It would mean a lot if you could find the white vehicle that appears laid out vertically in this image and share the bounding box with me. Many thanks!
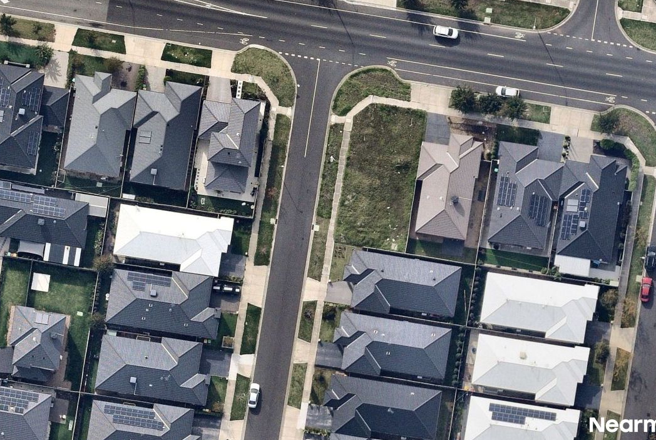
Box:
[249,383,262,408]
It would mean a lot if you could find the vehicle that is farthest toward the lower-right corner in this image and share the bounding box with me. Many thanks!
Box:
[641,277,654,303]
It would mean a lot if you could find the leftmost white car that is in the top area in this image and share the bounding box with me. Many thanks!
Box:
[432,25,459,39]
